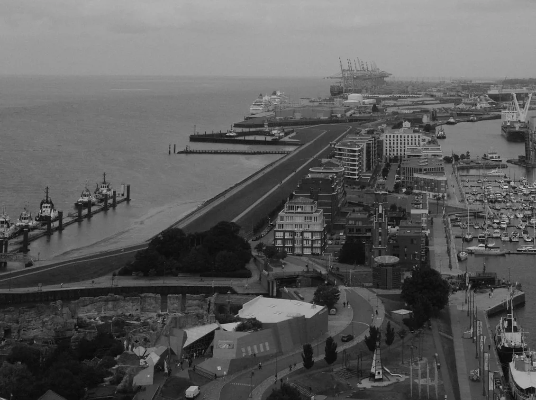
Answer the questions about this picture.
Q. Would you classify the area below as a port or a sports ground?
port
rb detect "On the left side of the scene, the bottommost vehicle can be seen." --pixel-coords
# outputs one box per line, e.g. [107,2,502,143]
[185,382,201,396]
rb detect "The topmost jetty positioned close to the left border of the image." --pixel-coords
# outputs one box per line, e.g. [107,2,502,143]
[0,198,131,258]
